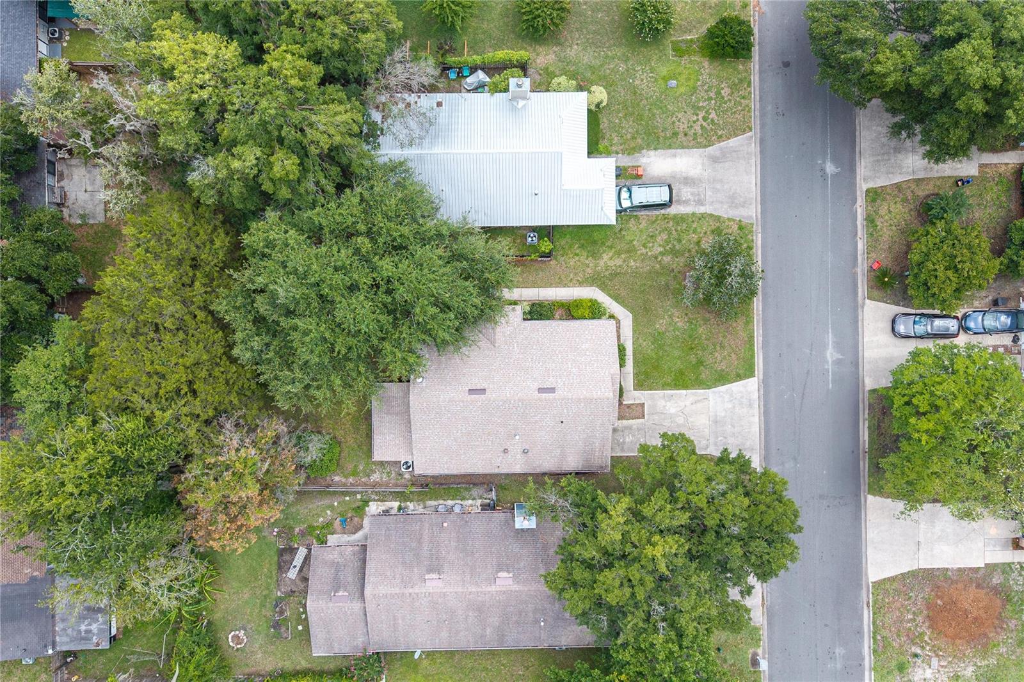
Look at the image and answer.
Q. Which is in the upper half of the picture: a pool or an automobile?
automobile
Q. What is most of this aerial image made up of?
trees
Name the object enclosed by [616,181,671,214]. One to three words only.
car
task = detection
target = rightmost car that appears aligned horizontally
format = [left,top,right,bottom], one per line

[962,306,1024,337]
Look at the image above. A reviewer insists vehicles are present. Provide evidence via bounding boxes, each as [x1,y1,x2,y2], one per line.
[892,309,960,341]
[616,181,671,214]
[962,306,1024,337]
